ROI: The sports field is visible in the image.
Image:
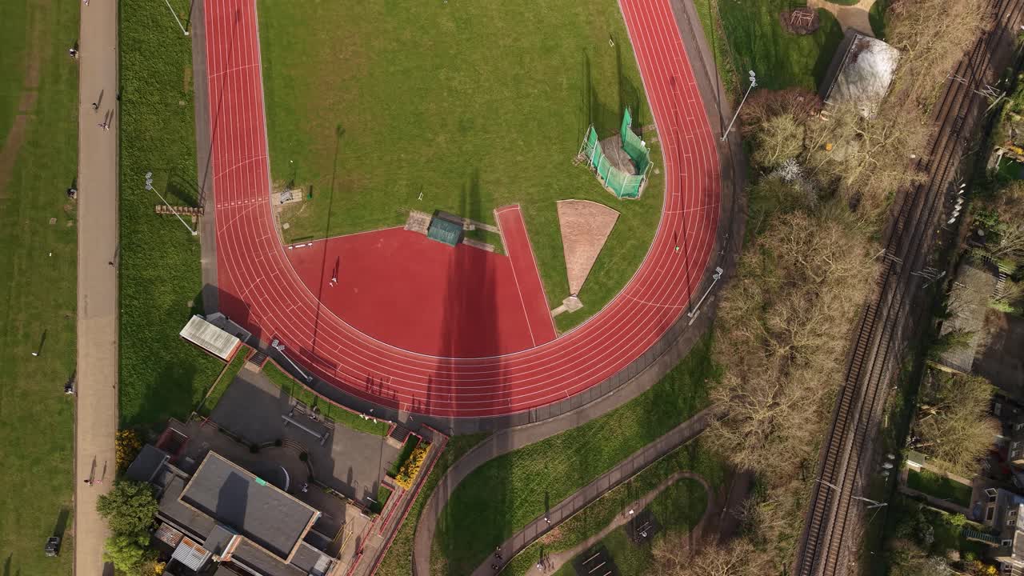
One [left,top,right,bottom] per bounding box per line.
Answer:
[256,0,665,336]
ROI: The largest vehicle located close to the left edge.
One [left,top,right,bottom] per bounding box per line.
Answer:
[41,535,61,560]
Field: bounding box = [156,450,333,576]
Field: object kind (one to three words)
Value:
building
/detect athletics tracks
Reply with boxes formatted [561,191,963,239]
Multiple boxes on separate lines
[205,0,721,417]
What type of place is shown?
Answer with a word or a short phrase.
sports ground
